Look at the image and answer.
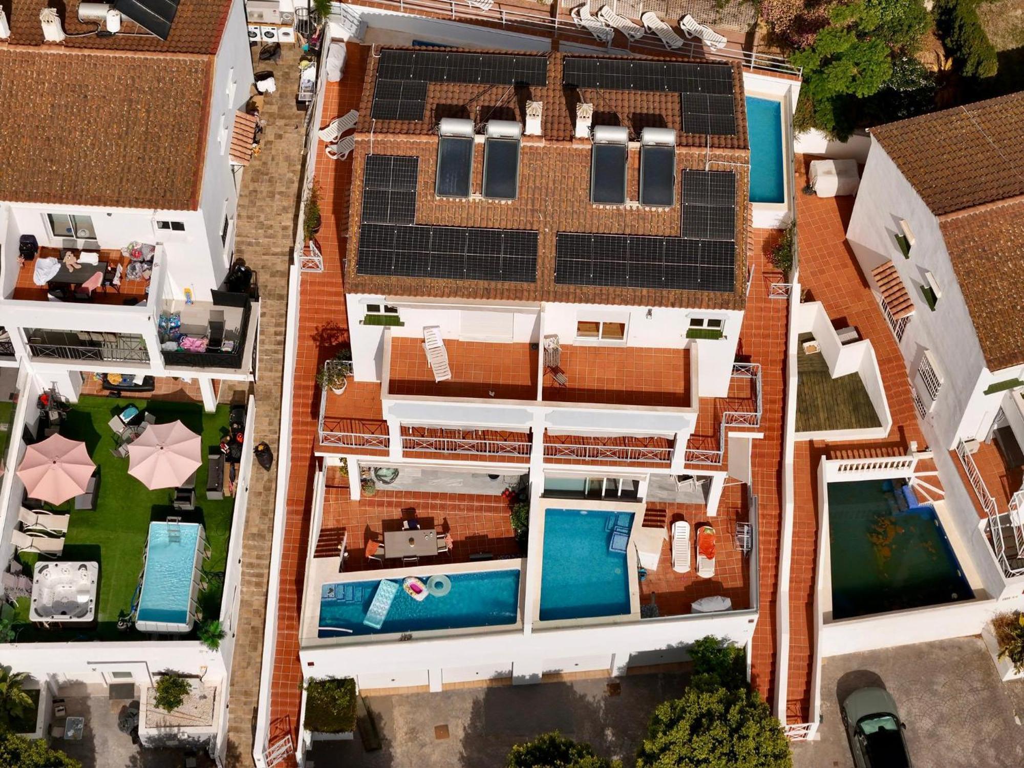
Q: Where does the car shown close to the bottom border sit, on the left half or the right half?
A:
right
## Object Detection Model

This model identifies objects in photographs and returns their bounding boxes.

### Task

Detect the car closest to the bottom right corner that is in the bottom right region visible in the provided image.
[843,682,918,768]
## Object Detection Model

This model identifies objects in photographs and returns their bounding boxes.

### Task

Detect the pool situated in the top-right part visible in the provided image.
[750,95,791,216]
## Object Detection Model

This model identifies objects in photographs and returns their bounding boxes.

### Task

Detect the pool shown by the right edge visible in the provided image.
[824,486,1005,661]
